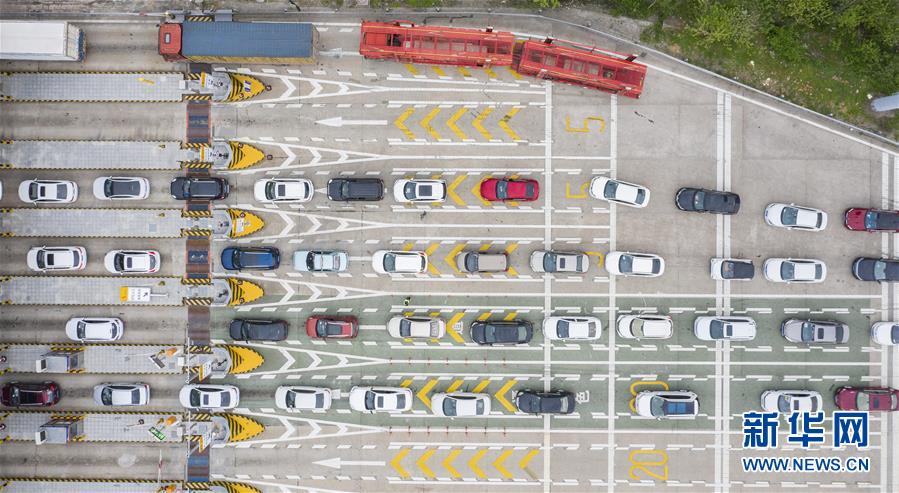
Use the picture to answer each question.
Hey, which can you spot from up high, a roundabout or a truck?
truck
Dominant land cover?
paved ground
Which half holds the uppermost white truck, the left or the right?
left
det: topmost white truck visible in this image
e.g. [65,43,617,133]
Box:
[0,25,87,64]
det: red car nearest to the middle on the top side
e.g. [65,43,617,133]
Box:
[480,176,539,204]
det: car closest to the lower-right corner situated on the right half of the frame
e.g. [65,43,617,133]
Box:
[831,386,899,413]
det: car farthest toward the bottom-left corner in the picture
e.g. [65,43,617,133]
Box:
[1,381,61,409]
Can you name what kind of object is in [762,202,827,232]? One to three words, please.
car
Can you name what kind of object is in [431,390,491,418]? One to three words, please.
car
